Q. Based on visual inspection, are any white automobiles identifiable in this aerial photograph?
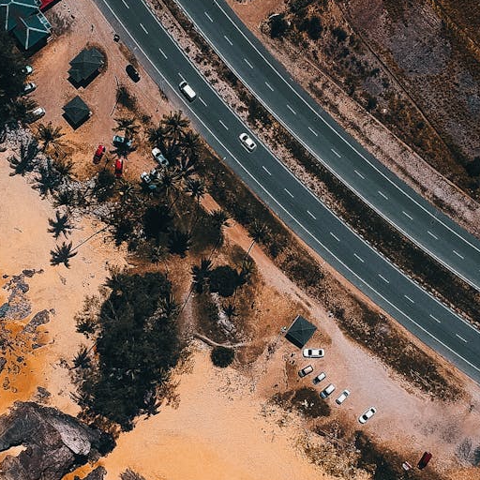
Yes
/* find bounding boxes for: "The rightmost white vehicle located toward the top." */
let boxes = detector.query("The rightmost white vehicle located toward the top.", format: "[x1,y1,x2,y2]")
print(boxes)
[239,132,258,152]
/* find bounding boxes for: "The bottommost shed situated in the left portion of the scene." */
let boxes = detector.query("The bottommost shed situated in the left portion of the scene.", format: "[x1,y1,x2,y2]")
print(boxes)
[62,95,90,126]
